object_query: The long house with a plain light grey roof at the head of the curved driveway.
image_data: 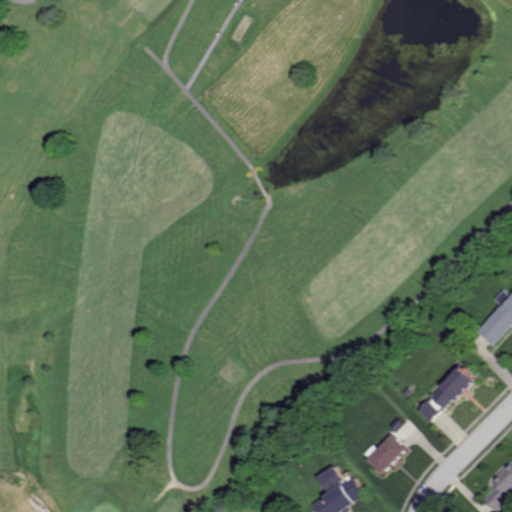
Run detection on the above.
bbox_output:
[478,291,512,346]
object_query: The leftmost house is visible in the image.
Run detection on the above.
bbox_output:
[312,466,366,512]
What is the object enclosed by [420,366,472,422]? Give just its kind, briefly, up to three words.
house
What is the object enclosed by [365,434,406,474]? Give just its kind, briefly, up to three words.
house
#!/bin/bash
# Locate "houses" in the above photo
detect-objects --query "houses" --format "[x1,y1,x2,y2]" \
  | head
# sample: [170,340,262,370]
[312,466,366,512]
[478,291,512,346]
[485,458,512,512]
[420,366,472,422]
[365,434,406,474]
